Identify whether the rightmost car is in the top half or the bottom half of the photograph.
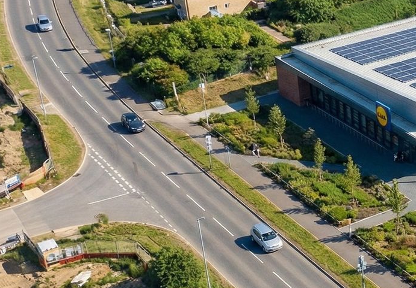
bottom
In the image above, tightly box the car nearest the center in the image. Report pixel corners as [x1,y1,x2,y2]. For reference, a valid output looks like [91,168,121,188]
[120,110,144,132]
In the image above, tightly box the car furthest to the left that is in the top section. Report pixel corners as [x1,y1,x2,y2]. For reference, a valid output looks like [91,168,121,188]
[36,15,51,28]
